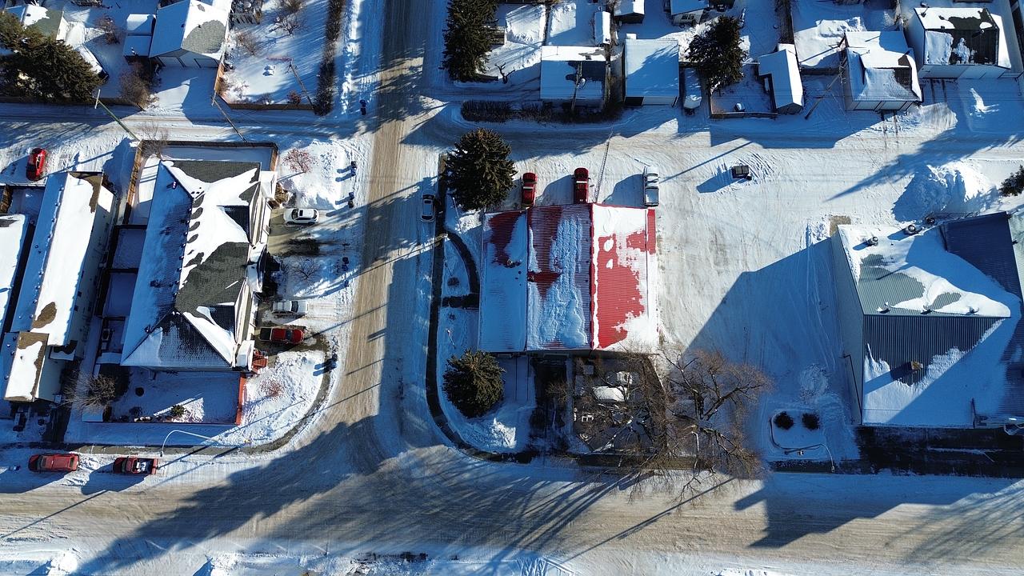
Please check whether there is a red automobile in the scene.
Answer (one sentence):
Yes, the photo shows a red automobile.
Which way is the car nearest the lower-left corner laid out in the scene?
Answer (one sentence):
I'd say the car nearest the lower-left corner is aligned from side to side in the picture.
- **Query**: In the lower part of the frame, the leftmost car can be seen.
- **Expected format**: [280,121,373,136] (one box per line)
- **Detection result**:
[31,452,81,474]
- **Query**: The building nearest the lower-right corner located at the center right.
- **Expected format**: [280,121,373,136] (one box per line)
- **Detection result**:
[823,207,1024,430]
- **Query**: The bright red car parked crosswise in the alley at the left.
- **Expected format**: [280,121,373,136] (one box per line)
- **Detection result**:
[24,150,50,182]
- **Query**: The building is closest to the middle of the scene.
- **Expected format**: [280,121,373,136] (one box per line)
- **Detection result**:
[480,199,665,378]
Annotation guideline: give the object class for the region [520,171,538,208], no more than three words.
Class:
vehicle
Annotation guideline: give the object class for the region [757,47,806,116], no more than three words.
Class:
shed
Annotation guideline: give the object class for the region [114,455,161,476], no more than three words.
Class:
truck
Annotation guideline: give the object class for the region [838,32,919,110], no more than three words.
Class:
building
